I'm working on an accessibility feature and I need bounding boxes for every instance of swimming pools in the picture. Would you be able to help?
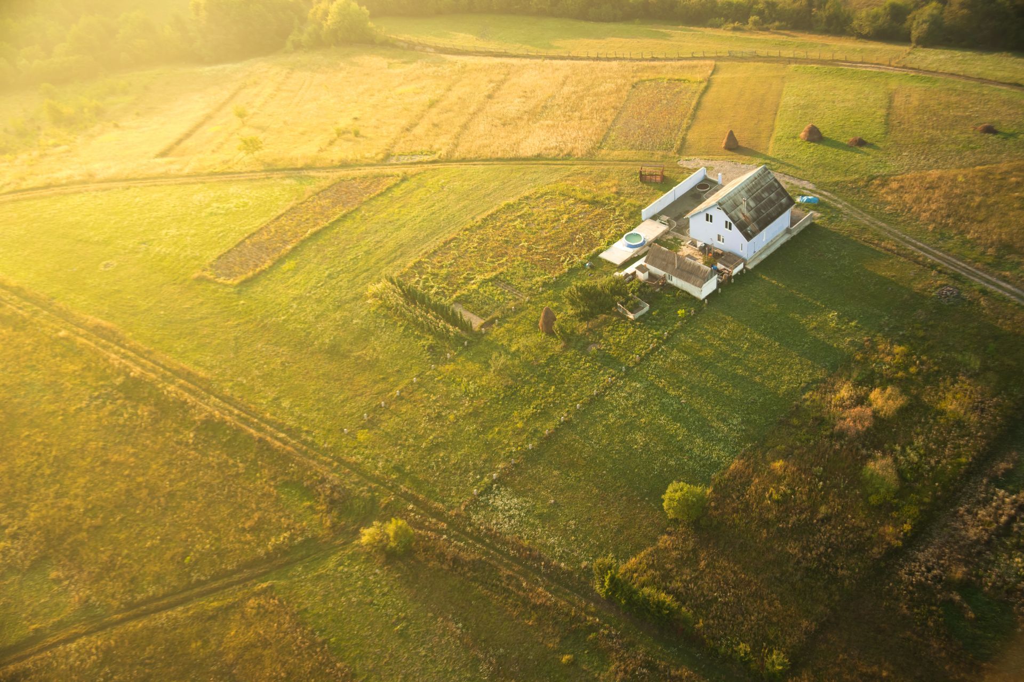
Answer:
[619,232,646,251]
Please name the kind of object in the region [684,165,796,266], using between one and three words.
house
